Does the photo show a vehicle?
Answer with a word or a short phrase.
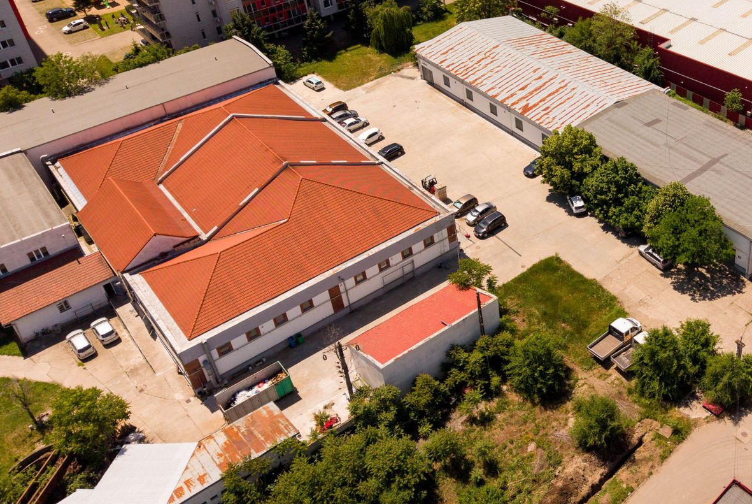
Yes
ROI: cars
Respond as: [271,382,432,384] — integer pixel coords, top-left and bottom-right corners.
[464,202,498,226]
[359,125,386,143]
[380,140,408,159]
[63,18,88,32]
[64,331,93,358]
[522,156,547,177]
[637,246,676,270]
[606,217,639,241]
[303,75,325,90]
[333,106,359,123]
[451,192,481,216]
[91,318,118,344]
[473,210,507,239]
[322,96,351,116]
[47,7,74,19]
[343,116,370,130]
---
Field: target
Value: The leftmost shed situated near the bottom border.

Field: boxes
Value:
[84,434,201,504]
